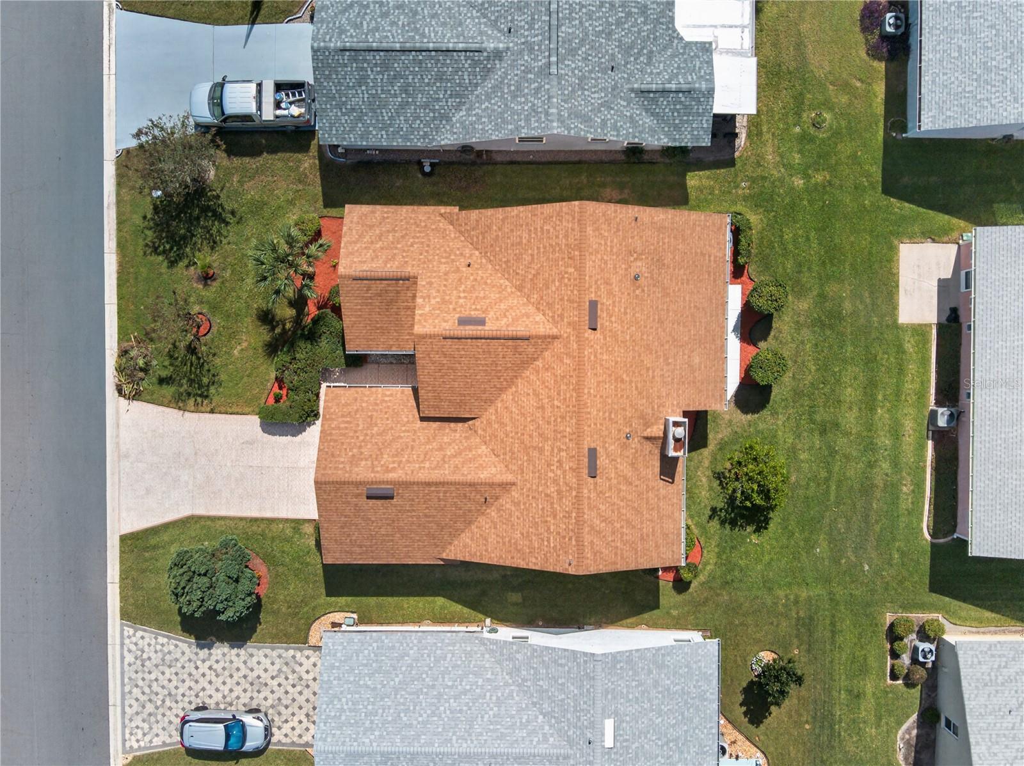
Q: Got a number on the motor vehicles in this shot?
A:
2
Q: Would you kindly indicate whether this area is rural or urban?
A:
urban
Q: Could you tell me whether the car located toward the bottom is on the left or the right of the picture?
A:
left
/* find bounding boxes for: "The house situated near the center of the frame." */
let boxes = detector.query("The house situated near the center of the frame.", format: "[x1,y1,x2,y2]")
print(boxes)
[315,200,732,574]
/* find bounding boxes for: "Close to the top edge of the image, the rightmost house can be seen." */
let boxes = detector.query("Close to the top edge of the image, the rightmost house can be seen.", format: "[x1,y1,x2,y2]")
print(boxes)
[907,0,1024,138]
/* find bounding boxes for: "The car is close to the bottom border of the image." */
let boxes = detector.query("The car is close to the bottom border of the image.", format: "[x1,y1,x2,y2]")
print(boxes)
[179,708,274,758]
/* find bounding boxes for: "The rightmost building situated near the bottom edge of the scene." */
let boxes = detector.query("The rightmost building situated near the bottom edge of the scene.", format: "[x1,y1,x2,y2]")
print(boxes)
[935,635,1024,766]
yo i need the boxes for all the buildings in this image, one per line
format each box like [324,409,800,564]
[907,0,1024,138]
[314,627,724,766]
[310,0,757,151]
[935,635,1024,766]
[954,224,1024,560]
[315,200,732,574]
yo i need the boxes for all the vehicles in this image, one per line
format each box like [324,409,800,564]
[191,75,317,130]
[179,708,274,758]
